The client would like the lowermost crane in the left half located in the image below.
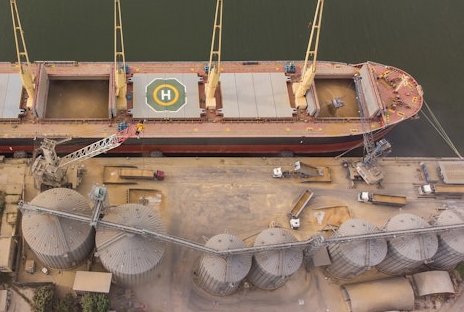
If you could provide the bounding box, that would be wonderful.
[23,122,146,185]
